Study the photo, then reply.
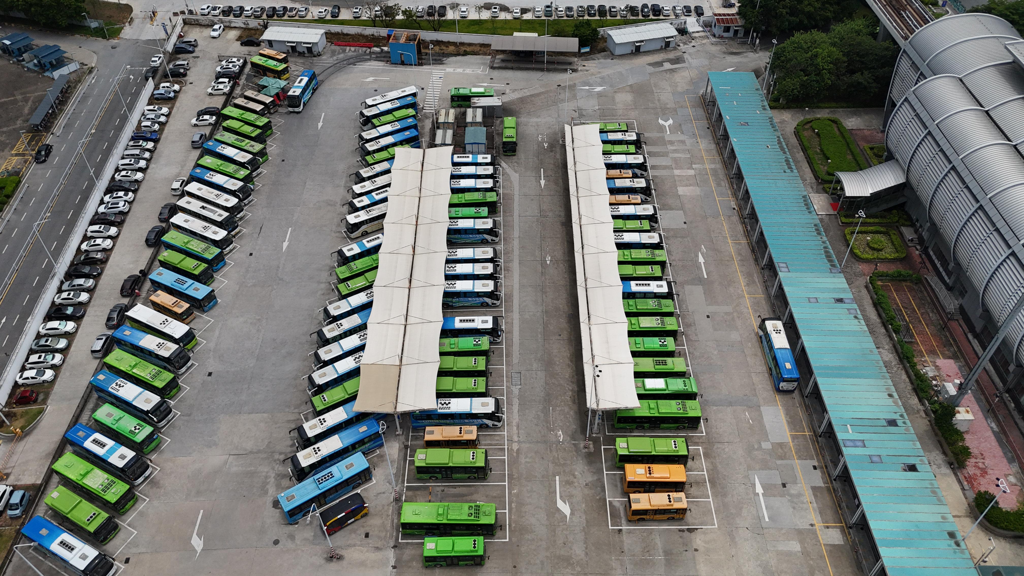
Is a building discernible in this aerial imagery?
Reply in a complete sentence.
Yes, a building is visible in the scene.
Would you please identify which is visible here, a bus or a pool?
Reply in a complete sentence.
There is a bus in the scene.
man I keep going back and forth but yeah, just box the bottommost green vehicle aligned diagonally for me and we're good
[45,486,118,545]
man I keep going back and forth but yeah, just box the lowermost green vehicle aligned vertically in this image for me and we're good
[502,118,518,155]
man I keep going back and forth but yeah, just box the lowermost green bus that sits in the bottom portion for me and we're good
[416,535,496,570]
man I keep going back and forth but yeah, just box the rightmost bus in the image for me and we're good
[758,314,800,393]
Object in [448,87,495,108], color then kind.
green bus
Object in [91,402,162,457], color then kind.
green bus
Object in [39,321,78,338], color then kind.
white car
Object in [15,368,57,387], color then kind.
white car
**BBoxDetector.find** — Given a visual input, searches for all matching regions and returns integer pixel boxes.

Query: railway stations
[877,10,1024,423]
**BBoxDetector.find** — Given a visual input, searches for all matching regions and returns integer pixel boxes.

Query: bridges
[857,0,938,70]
